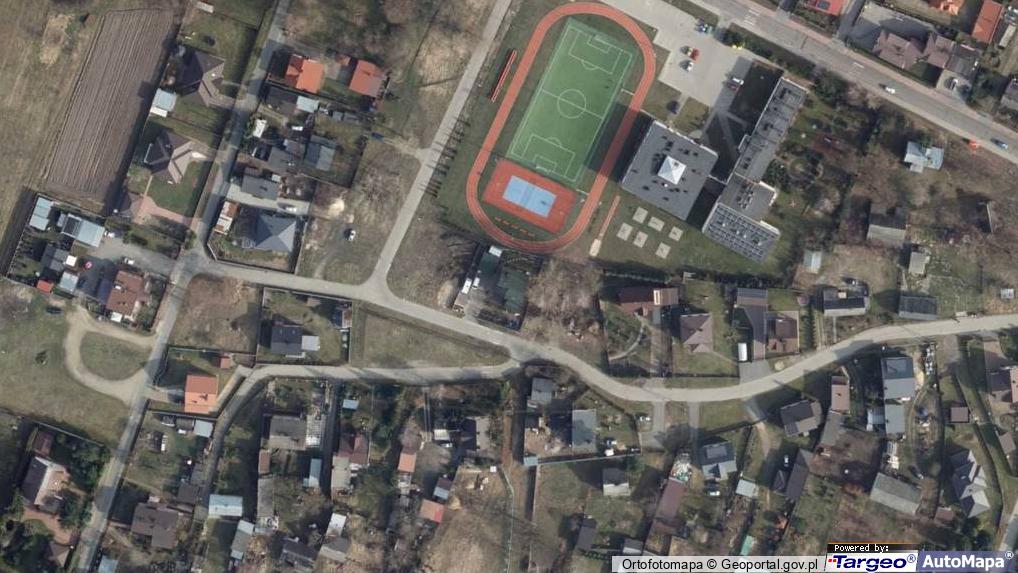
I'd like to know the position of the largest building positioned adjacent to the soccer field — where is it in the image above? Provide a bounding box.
[622,77,811,264]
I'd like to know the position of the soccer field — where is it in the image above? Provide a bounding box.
[506,19,640,190]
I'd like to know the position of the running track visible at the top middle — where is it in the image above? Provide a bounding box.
[466,2,655,253]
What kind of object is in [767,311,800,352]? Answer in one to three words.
house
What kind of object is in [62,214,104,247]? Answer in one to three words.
barn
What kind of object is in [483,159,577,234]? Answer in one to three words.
sports court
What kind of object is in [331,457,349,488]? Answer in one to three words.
shed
